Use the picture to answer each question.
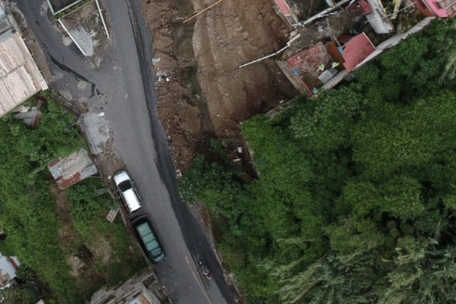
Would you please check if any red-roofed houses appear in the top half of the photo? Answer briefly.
Yes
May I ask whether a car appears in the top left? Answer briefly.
No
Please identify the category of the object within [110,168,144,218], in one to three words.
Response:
car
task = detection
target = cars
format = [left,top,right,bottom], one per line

[128,213,167,267]
[110,168,144,218]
